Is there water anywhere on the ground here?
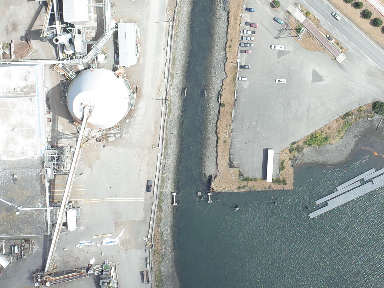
Yes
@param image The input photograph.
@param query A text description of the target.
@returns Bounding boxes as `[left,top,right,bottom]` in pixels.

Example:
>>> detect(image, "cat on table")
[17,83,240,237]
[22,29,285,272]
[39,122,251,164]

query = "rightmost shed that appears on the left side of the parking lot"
[117,22,138,66]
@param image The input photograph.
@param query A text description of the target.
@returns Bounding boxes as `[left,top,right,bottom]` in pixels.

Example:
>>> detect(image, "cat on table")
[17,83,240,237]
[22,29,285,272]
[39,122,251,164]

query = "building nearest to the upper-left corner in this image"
[62,0,98,22]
